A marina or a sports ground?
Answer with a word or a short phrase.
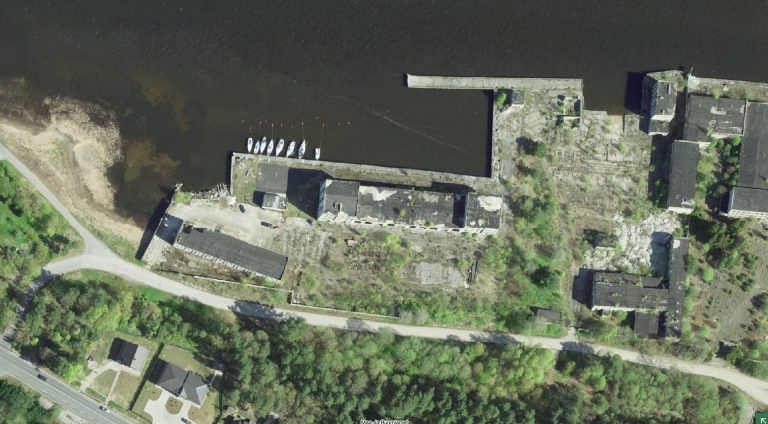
marina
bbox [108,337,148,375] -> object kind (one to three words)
house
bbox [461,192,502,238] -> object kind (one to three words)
building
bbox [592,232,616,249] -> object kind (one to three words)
building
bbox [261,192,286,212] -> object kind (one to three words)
shed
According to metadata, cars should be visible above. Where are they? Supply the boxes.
[262,222,272,228]
[182,417,190,424]
[38,374,46,381]
[99,405,109,413]
[238,204,244,213]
